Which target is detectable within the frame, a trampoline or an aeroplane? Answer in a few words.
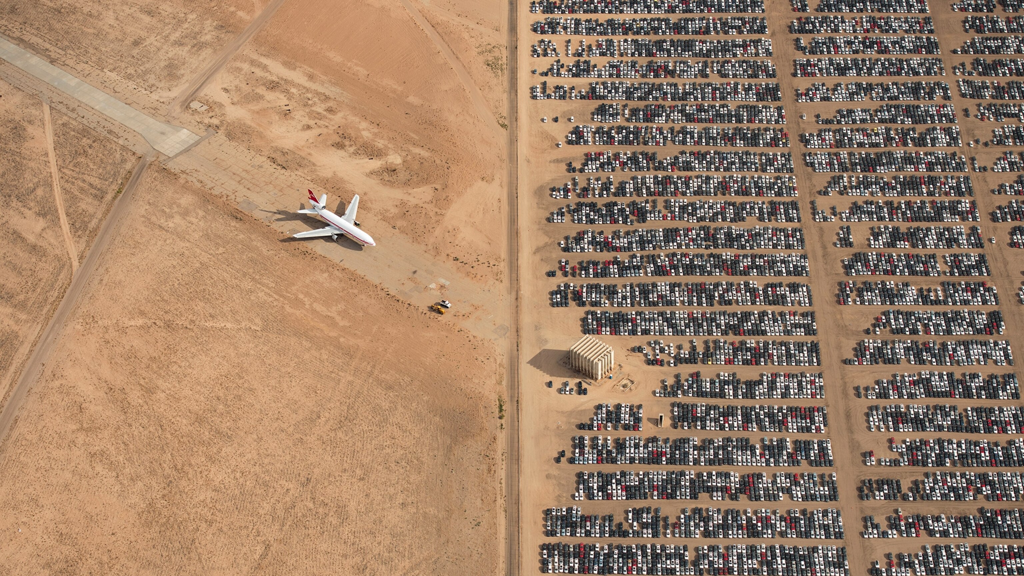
aeroplane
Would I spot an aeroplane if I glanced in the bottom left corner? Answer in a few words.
No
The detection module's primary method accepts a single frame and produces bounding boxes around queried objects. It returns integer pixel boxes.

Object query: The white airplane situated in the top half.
[295,189,376,247]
